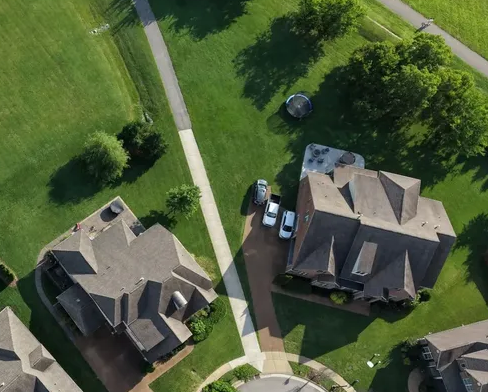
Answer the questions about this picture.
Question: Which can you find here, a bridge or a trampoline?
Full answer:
Looking from above, you can make out a trampoline.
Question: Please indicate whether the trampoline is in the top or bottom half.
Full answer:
The top half of the photo is where the trampoline is.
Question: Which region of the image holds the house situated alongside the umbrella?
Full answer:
The house situated alongside the umbrella is located in the right region of the scene.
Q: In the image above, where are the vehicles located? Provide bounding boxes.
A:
[277,209,295,241]
[251,178,267,207]
[261,191,283,229]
